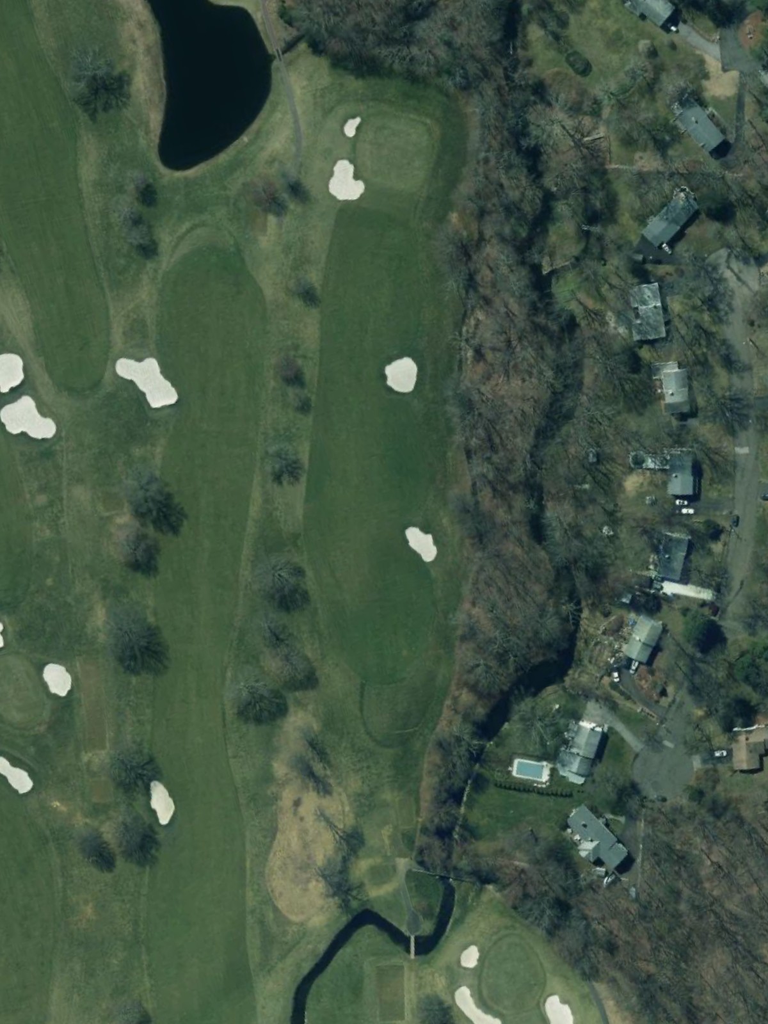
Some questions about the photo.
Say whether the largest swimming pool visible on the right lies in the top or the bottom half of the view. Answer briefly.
bottom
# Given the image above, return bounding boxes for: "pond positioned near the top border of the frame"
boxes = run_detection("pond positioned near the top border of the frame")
[151,0,276,170]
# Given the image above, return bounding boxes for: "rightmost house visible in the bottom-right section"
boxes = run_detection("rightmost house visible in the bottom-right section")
[732,723,768,770]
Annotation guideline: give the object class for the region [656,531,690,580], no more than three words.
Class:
house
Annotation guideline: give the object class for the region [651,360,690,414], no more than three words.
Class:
house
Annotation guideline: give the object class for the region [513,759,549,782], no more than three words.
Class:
swimming pool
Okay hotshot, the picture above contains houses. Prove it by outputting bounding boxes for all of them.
[732,723,768,770]
[665,449,694,495]
[625,0,675,27]
[630,284,665,340]
[643,195,700,248]
[567,803,628,869]
[656,531,690,580]
[678,92,725,152]
[624,614,664,663]
[651,360,690,414]
[557,720,604,785]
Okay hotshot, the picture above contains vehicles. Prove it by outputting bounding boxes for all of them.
[662,243,672,254]
[613,671,619,682]
[668,24,678,33]
[681,508,693,514]
[676,500,687,505]
[732,514,739,526]
[630,660,639,673]
[630,886,635,896]
[761,494,768,499]
[710,603,719,615]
